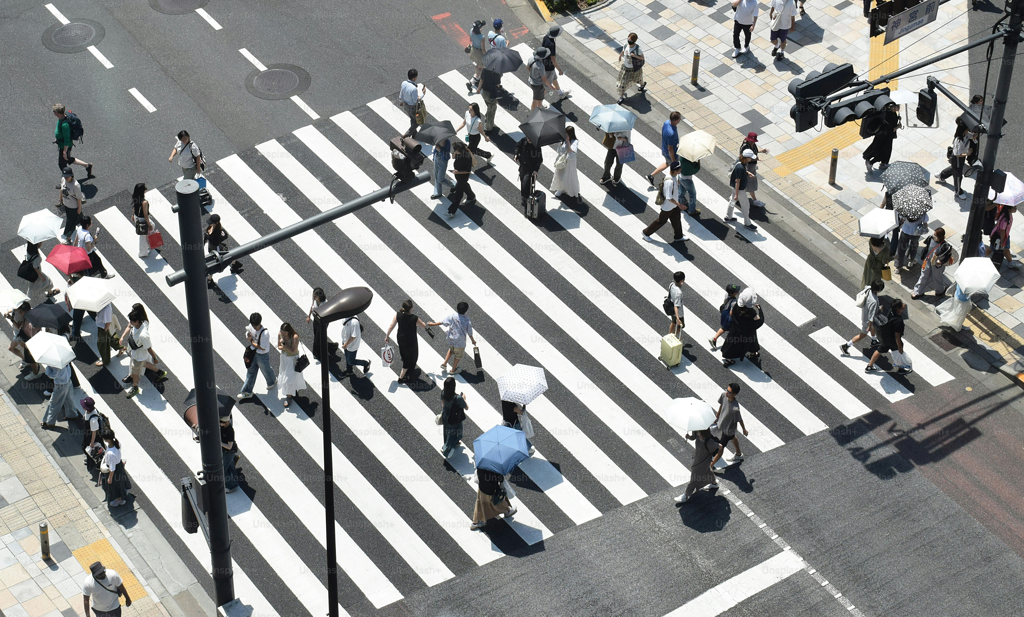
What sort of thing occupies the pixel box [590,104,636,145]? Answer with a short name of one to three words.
umbrella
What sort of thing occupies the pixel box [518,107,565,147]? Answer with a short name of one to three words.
umbrella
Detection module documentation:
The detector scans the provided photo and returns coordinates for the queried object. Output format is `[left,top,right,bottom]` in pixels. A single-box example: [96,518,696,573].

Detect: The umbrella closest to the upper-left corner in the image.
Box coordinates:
[17,208,63,244]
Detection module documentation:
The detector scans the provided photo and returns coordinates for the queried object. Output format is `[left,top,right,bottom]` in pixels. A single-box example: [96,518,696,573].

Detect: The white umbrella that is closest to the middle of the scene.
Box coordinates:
[497,364,548,405]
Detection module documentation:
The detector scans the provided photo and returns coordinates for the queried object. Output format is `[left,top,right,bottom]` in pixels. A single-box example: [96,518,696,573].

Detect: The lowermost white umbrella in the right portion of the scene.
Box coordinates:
[663,396,716,448]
